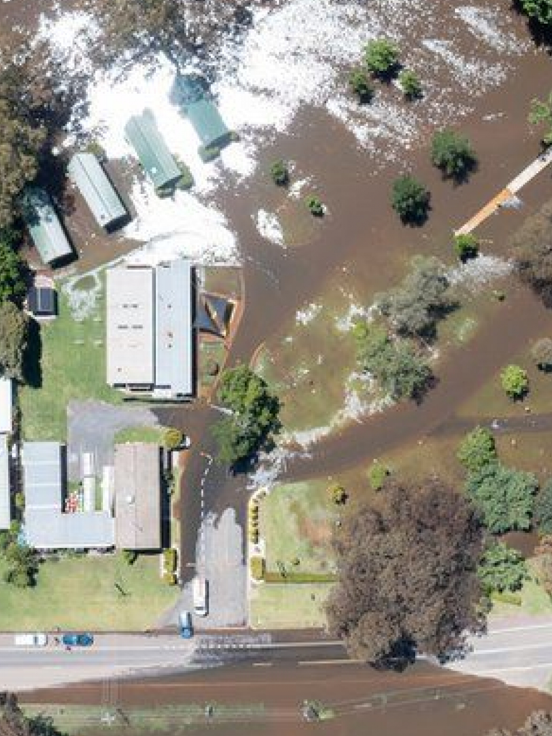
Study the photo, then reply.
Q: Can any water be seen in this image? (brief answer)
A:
Yes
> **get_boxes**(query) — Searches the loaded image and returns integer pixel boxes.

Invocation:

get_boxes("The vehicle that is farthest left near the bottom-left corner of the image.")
[13,633,48,646]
